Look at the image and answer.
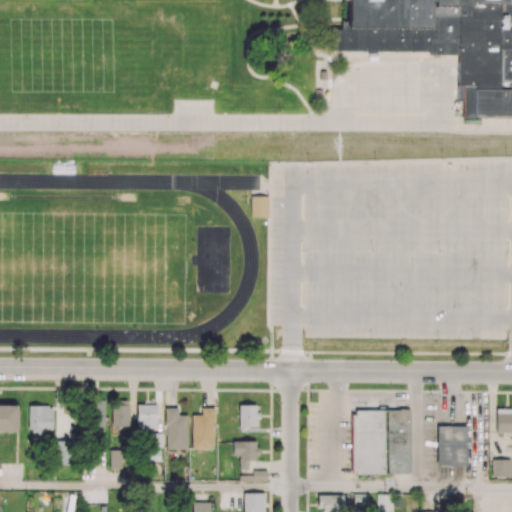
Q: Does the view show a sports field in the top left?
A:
Yes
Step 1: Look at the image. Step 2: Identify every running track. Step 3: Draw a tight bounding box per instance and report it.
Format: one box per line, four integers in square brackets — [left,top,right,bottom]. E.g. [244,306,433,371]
[0,174,259,344]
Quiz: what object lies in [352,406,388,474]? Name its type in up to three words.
building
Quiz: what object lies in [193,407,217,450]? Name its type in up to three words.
house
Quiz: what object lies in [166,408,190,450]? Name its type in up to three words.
house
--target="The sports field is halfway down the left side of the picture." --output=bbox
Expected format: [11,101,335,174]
[0,211,190,326]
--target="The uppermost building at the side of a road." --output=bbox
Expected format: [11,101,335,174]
[338,0,512,123]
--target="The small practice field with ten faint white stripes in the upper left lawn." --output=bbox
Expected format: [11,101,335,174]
[9,16,117,96]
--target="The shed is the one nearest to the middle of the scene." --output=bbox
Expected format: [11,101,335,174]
[252,196,270,218]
